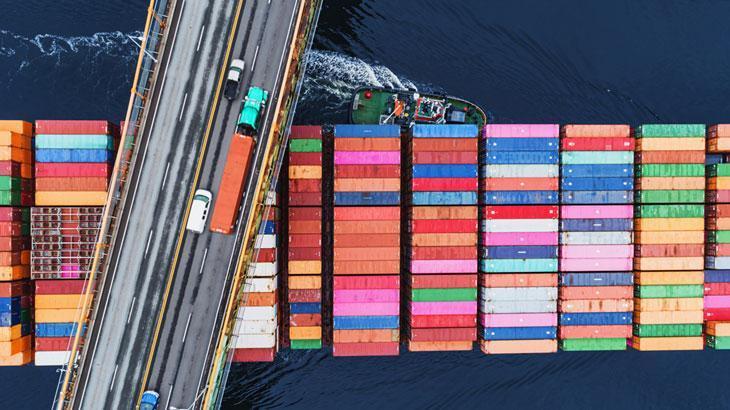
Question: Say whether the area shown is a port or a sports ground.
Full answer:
It's a port.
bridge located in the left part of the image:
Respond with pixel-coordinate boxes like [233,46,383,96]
[51,0,324,410]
